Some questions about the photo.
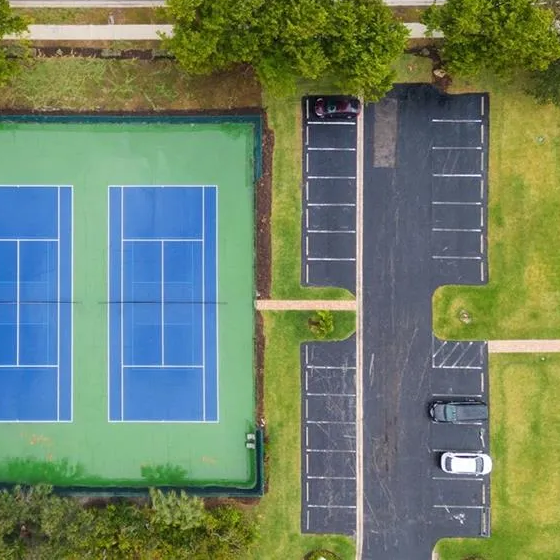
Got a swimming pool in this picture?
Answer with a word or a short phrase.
No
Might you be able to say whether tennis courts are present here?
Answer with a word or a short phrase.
Yes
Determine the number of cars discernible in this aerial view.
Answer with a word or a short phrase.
3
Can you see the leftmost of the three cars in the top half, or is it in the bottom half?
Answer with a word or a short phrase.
top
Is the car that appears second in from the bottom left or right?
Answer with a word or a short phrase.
right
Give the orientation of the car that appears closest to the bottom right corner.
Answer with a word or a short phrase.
from side to side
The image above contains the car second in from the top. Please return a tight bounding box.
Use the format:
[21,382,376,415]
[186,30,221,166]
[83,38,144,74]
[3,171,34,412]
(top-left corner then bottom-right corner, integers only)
[428,399,487,423]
